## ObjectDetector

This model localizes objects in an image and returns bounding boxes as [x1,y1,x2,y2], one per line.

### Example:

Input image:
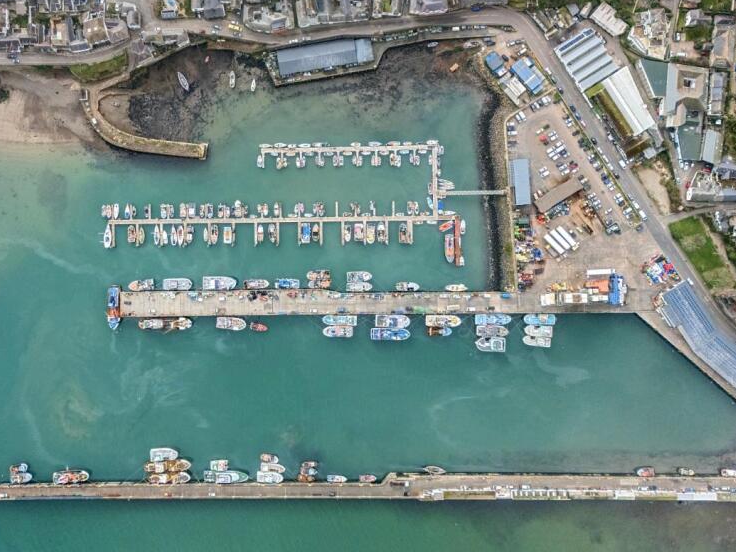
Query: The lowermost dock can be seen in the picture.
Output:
[0,471,736,502]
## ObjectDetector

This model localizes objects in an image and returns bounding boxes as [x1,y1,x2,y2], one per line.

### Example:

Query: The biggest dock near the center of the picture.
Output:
[120,290,516,318]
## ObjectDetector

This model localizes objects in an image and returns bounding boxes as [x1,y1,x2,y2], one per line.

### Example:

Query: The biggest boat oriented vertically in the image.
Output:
[107,285,119,329]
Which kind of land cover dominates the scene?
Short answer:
water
